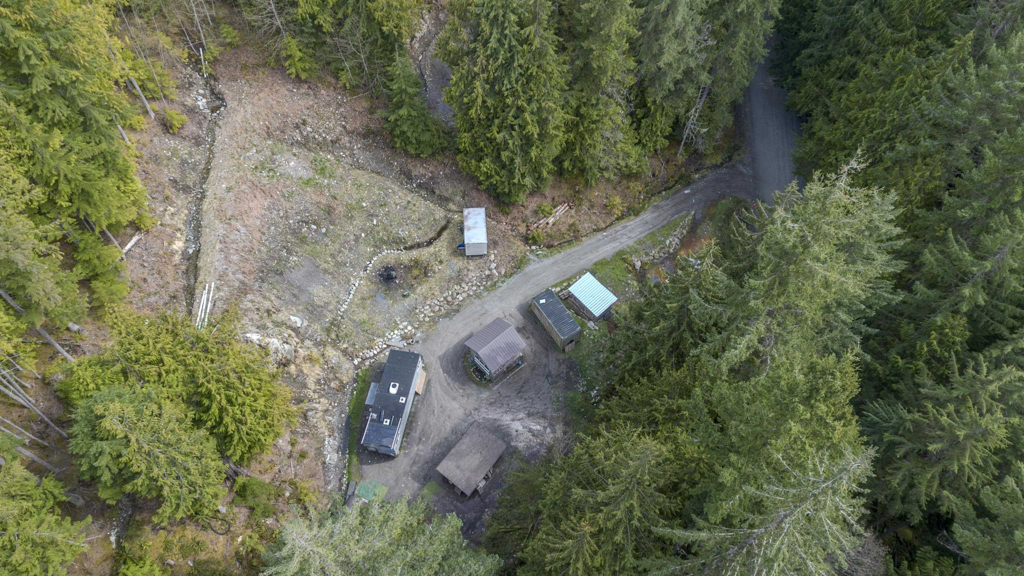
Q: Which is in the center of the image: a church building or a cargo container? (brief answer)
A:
cargo container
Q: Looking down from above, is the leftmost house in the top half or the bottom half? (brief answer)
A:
bottom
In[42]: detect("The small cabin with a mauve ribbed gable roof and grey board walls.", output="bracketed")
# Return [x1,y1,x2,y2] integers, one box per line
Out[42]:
[466,318,527,378]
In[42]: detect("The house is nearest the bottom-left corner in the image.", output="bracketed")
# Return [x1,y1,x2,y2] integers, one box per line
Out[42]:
[360,350,422,456]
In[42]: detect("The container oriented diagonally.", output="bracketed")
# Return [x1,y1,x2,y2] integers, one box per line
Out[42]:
[533,291,580,347]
